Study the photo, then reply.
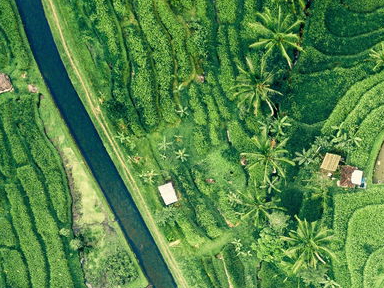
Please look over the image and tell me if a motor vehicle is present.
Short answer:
No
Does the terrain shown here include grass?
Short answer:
Yes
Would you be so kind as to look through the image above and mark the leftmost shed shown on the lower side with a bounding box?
[158,182,183,206]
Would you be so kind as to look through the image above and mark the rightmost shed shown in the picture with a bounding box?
[339,167,358,190]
